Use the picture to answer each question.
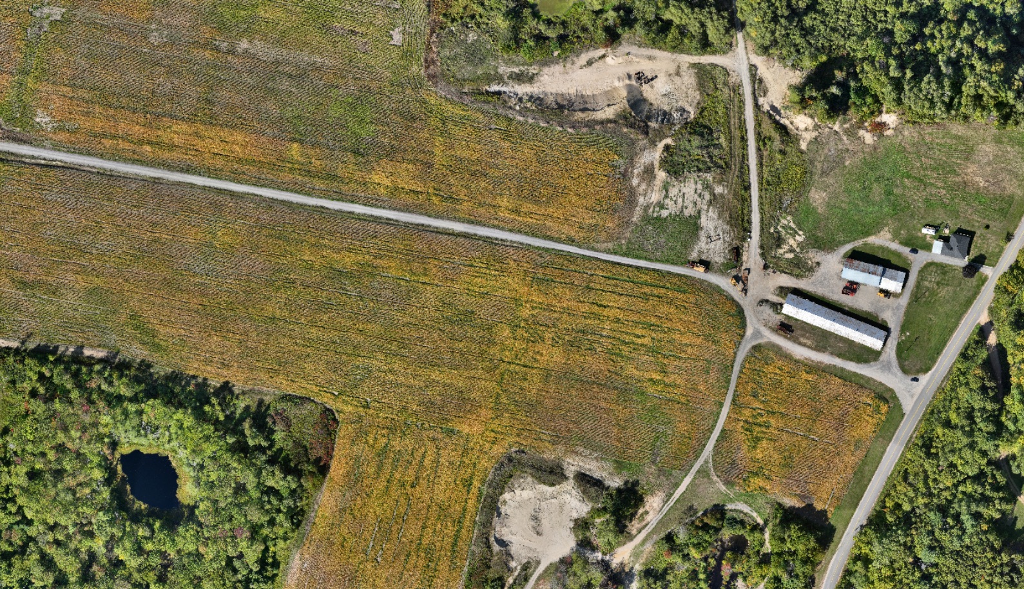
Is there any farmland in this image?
Yes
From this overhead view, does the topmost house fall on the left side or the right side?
right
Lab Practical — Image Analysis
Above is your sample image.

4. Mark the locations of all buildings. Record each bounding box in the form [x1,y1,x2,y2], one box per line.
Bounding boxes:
[842,260,905,293]
[930,233,972,263]
[782,294,888,350]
